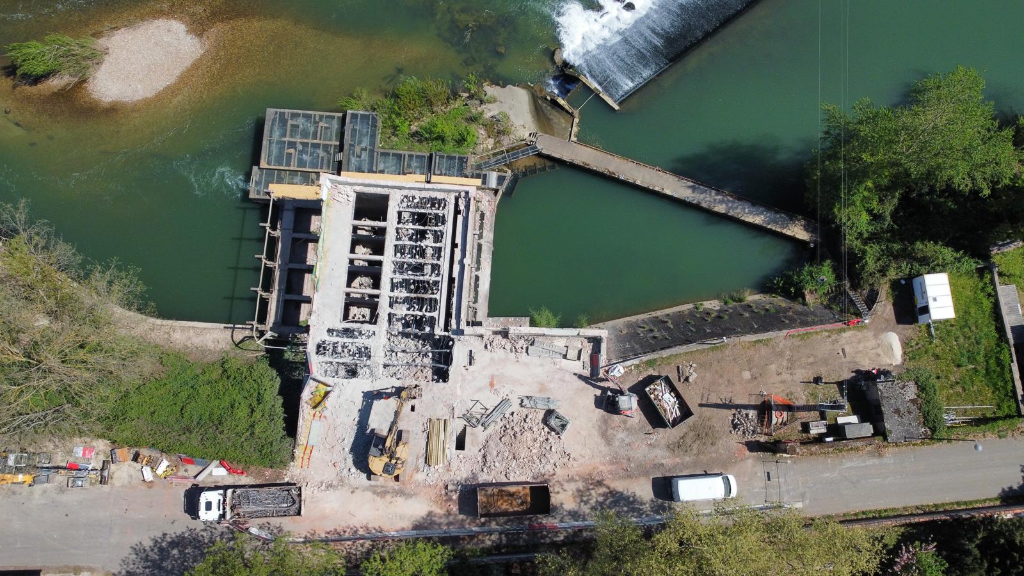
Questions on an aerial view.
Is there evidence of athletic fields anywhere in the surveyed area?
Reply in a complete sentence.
No, I can see no athletic field in this picture.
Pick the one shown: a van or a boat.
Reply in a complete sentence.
It is a van that can be seen here.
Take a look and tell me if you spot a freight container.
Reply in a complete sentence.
Yes, a freight container can be made out from above.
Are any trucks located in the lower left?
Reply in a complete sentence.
Yes, I can see a truck in the lower left.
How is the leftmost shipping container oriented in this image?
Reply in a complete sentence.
From this overhead view, the leftmost shipping container appears to run horizontally.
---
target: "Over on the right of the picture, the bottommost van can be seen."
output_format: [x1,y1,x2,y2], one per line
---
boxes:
[670,471,738,502]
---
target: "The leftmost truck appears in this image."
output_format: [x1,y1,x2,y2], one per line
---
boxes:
[200,481,308,526]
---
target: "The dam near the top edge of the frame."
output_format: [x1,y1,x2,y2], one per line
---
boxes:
[572,0,760,106]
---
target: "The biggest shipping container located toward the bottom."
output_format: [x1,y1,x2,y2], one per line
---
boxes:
[477,481,551,517]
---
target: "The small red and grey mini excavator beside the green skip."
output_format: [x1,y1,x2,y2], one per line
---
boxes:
[604,368,639,417]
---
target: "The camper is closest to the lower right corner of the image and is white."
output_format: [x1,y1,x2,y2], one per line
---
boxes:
[908,274,954,340]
